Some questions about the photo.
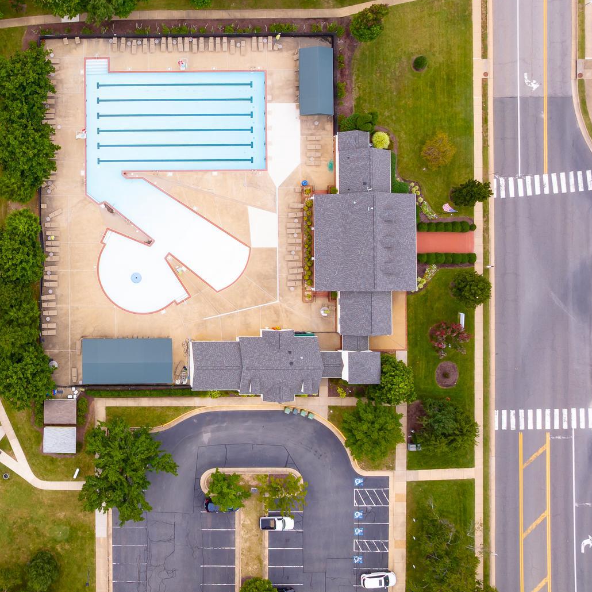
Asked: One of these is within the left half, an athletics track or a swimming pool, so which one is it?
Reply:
swimming pool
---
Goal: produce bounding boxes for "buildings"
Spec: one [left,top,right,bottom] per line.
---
[297,46,335,115]
[191,331,345,402]
[309,131,417,352]
[44,425,76,453]
[82,338,172,385]
[44,398,76,424]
